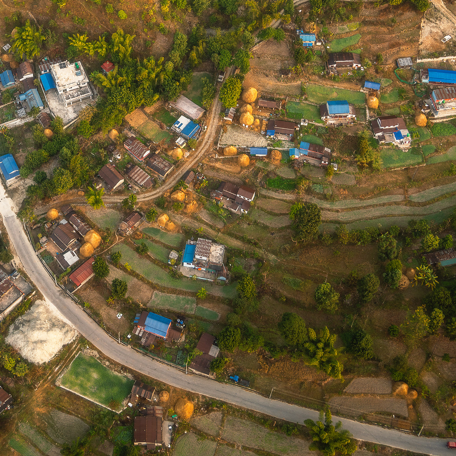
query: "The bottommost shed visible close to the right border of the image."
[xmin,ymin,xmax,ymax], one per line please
[421,247,456,268]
